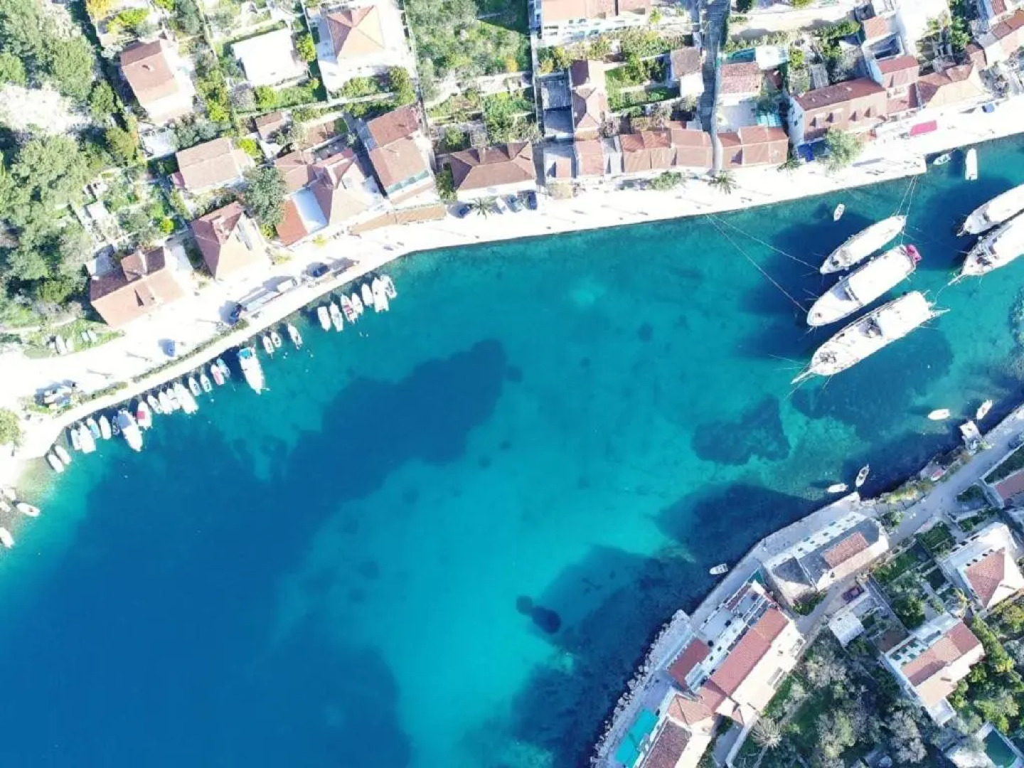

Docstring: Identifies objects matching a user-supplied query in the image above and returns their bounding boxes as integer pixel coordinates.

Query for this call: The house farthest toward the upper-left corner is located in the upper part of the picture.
[120,40,195,128]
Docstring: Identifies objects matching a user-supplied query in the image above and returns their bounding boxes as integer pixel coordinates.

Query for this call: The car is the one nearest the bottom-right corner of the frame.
[843,584,863,602]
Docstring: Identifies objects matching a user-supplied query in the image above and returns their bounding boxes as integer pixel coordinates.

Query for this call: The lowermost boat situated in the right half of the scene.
[709,562,727,574]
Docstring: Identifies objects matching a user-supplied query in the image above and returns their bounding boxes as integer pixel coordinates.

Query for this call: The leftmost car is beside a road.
[164,338,176,357]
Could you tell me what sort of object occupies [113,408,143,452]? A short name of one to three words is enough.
boat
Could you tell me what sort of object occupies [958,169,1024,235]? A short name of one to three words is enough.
ship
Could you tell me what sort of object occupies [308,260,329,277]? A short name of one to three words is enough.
car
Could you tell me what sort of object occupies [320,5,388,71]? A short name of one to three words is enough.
house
